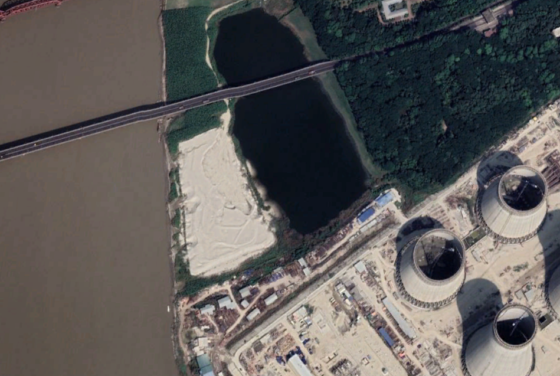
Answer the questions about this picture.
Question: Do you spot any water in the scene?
Yes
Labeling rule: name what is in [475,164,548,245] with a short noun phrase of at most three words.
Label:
cooling tower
